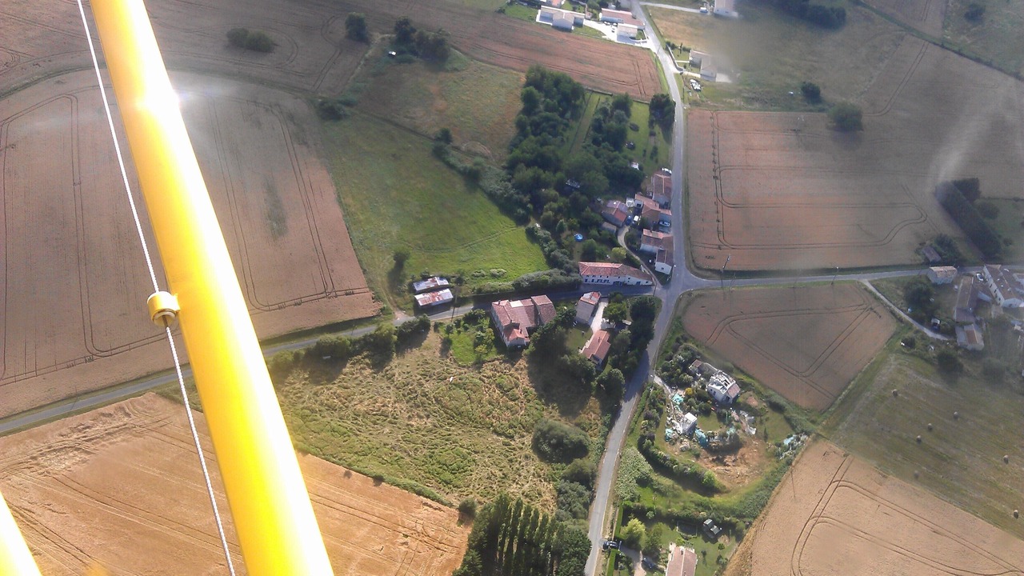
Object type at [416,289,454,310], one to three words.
barn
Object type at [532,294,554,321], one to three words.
barn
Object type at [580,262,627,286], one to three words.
house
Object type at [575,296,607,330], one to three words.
house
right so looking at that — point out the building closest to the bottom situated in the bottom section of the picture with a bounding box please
[661,545,694,576]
